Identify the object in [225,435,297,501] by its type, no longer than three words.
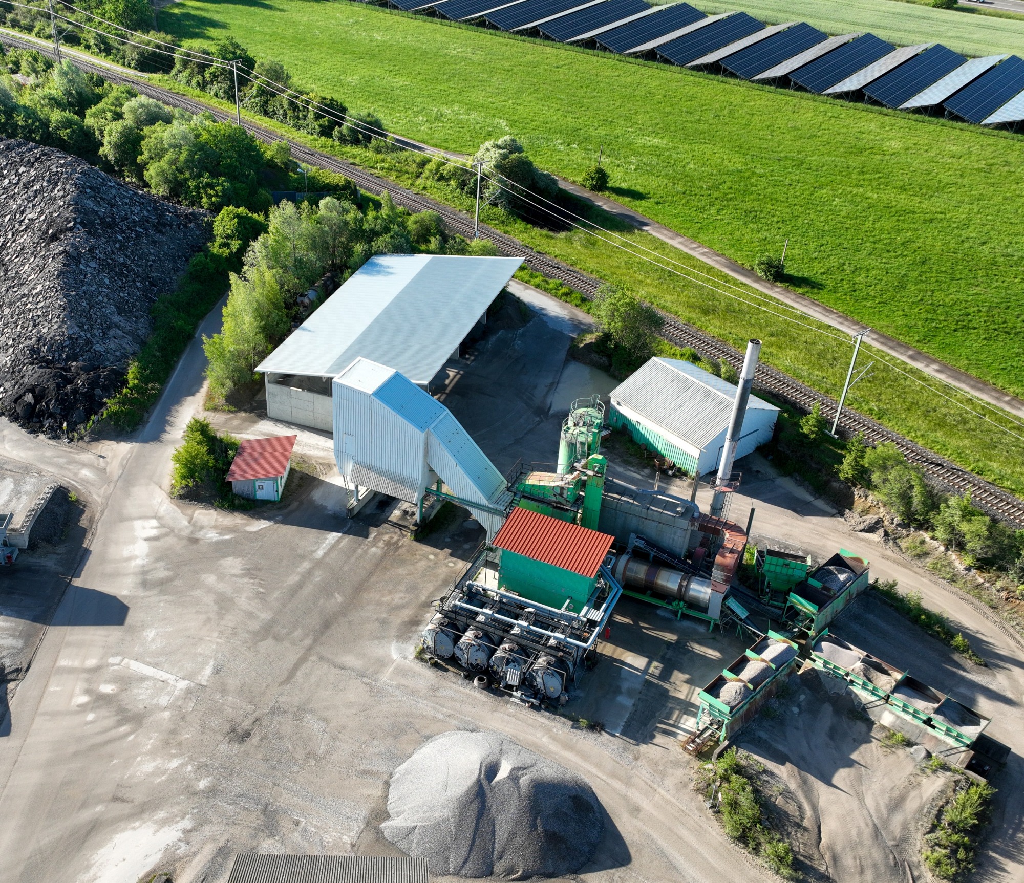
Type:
shed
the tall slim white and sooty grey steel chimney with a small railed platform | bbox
[705,337,764,547]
